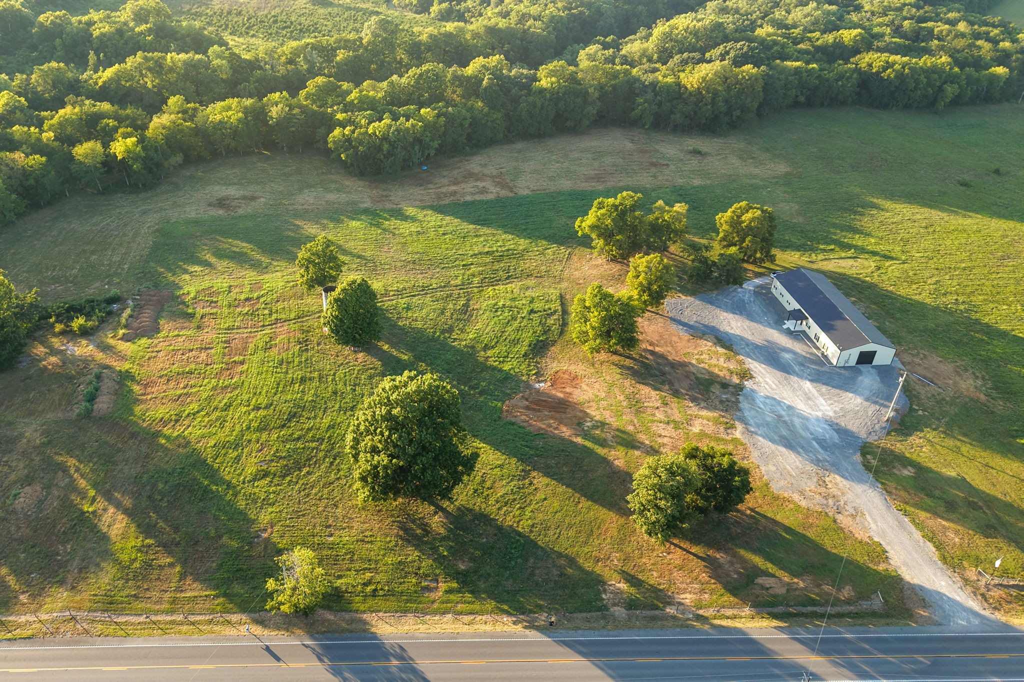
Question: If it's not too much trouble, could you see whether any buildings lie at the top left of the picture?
No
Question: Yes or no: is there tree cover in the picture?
Yes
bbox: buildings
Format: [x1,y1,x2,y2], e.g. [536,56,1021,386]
[772,268,897,369]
